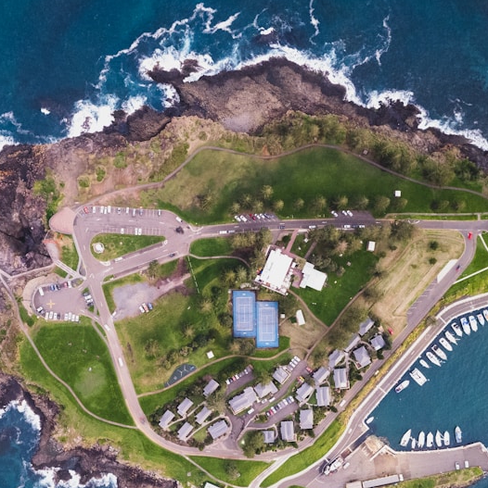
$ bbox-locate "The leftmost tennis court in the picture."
[233,290,256,338]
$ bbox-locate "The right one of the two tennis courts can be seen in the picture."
[256,301,279,349]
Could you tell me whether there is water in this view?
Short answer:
Yes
